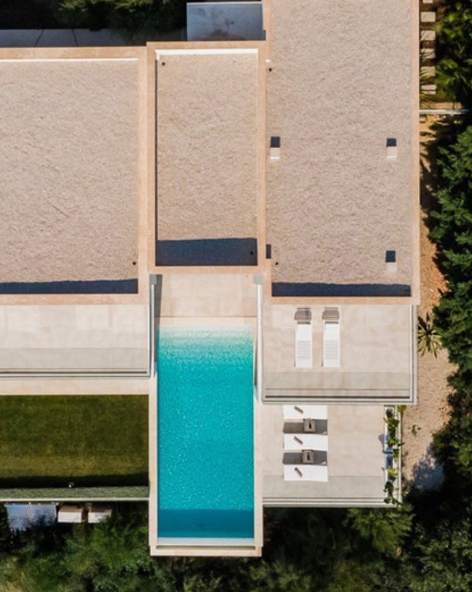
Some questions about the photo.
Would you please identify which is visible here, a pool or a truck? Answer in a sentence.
Of the two, only a pool appears.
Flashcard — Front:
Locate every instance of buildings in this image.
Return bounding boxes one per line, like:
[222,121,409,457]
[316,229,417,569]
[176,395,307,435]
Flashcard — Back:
[0,0,420,303]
